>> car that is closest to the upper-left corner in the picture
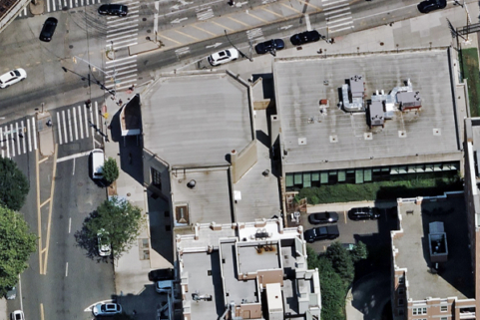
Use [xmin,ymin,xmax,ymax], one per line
[39,16,57,43]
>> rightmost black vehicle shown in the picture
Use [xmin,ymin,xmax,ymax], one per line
[416,0,448,14]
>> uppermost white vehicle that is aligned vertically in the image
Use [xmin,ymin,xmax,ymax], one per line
[89,149,104,184]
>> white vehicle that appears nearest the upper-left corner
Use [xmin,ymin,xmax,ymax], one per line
[0,68,28,89]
